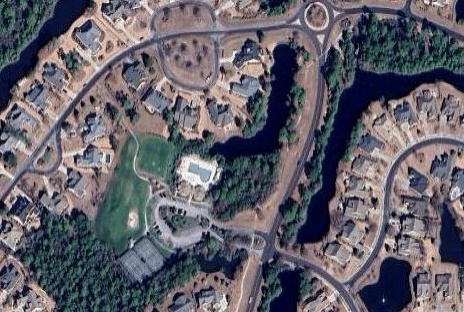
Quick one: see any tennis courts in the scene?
Yes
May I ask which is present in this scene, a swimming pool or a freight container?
swimming pool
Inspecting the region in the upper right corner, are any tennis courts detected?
No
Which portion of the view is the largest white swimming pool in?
center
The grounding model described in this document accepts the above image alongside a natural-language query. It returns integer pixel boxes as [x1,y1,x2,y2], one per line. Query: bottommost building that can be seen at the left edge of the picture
[17,287,46,312]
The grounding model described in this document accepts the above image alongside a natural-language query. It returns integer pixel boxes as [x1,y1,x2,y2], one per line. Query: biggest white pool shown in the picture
[176,154,218,189]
